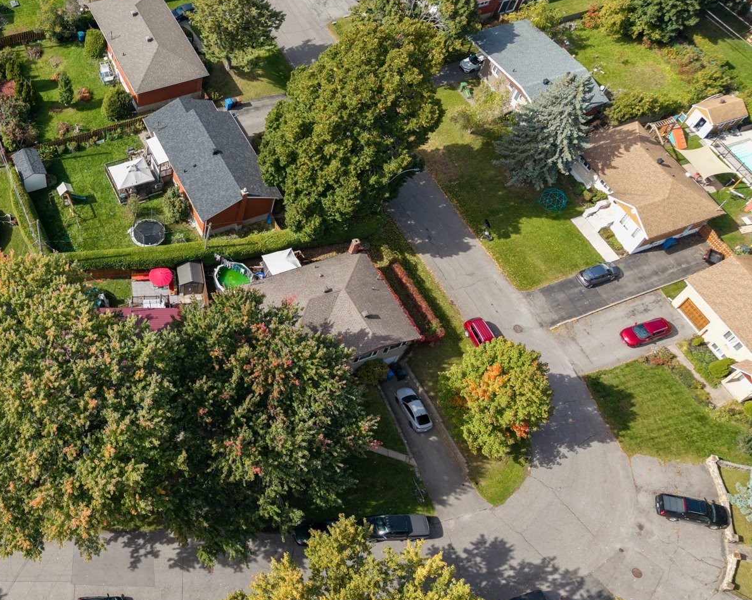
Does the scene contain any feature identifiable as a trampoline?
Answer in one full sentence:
Yes, a trampoline can be made out from above.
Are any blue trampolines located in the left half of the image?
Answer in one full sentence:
No, no blue trampoline is visible in the left half of the image.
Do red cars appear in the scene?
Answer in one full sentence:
Yes, the image includes a red car.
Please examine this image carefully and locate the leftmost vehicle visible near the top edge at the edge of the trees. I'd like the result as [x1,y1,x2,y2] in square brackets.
[171,0,204,23]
